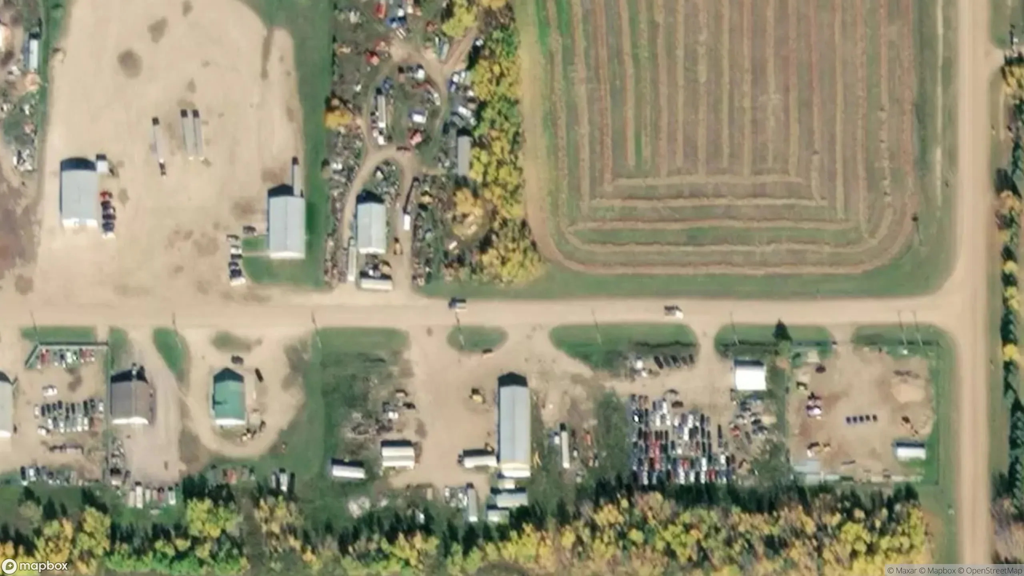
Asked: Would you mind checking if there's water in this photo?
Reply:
No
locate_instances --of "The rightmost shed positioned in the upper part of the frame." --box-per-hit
[458,136,471,178]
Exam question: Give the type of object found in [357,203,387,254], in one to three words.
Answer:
building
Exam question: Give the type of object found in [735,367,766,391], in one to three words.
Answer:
shed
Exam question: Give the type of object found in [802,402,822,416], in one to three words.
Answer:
work vehicle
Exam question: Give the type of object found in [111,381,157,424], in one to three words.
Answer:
building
